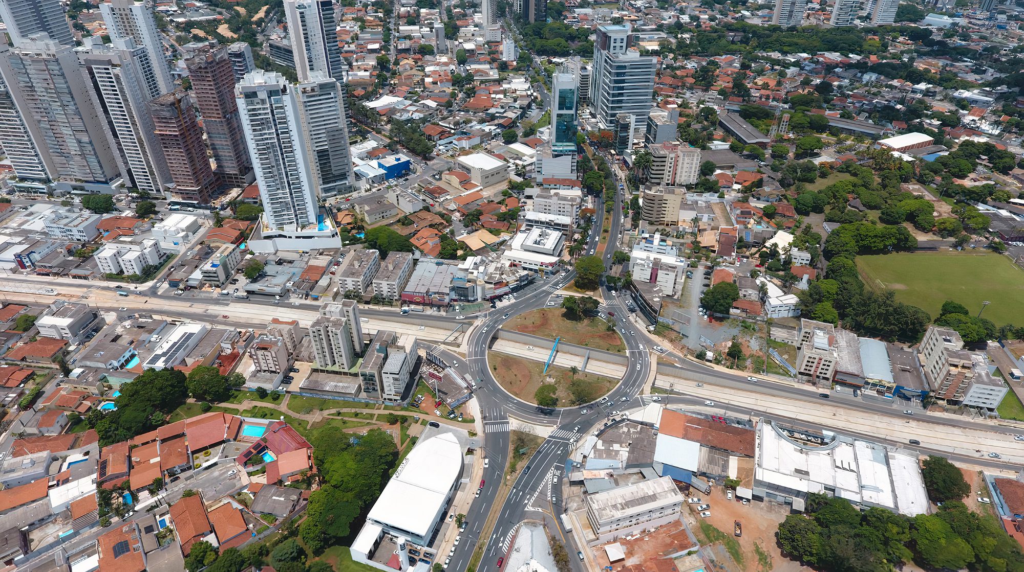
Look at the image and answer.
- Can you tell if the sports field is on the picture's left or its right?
right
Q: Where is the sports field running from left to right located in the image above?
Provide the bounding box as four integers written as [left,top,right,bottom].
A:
[857,252,1024,328]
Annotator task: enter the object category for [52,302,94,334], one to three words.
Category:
building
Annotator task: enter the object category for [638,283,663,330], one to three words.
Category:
building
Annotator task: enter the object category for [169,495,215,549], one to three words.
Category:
house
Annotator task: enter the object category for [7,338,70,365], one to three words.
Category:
house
